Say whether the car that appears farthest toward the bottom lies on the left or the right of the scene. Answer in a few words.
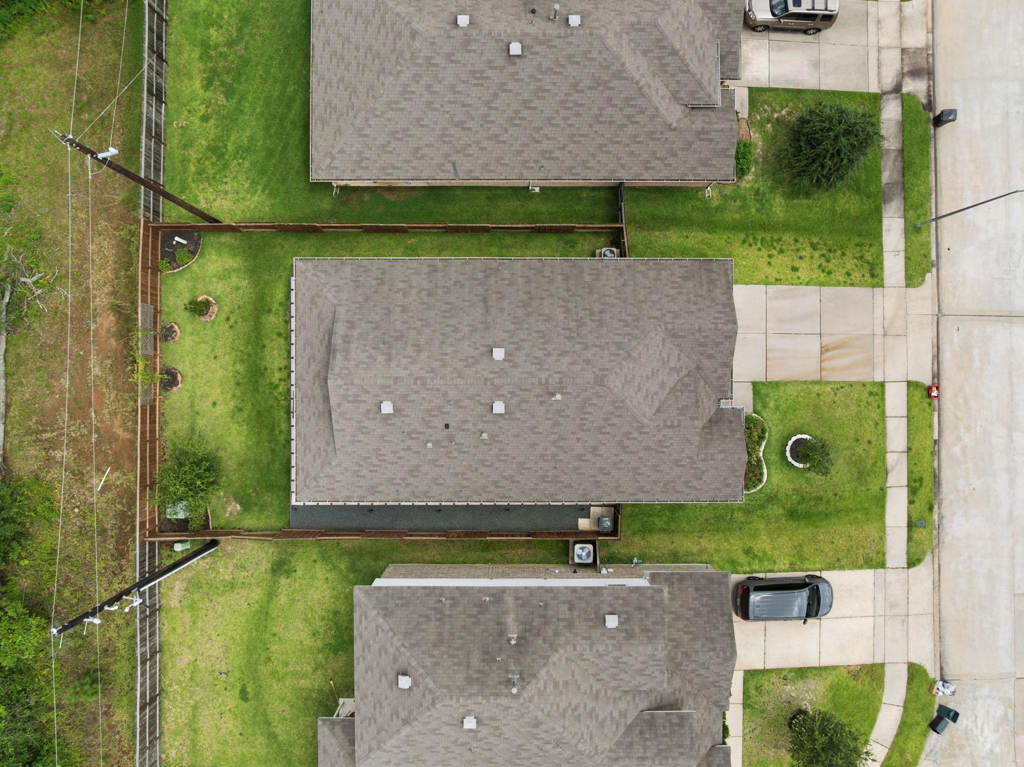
right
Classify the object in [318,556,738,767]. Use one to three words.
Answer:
house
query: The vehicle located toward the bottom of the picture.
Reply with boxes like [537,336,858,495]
[731,575,833,628]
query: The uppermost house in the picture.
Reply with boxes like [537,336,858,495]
[310,0,749,196]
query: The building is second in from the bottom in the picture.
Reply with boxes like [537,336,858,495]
[293,258,747,503]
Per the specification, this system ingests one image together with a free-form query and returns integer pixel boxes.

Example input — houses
[293,258,747,503]
[310,0,749,196]
[318,556,738,767]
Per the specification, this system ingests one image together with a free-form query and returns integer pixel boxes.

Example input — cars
[731,575,833,628]
[746,0,841,32]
